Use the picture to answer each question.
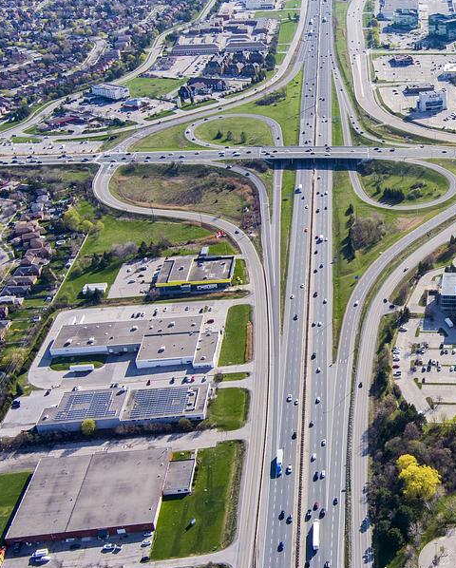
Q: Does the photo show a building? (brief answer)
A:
Yes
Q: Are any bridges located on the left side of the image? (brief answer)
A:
No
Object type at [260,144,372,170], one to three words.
bridge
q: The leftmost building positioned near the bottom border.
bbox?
[6,449,173,547]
